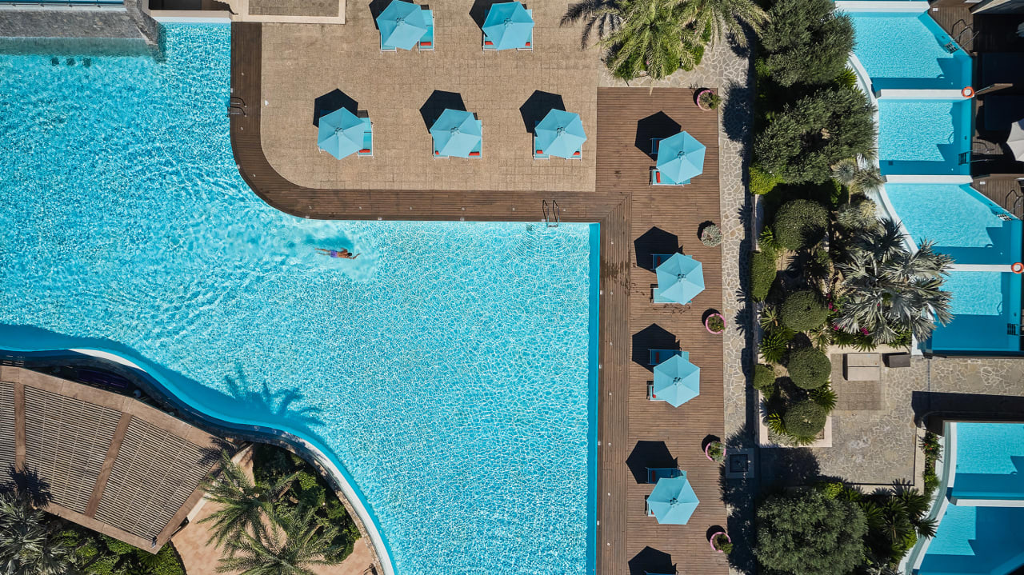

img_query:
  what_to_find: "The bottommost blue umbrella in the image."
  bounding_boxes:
[645,474,699,522]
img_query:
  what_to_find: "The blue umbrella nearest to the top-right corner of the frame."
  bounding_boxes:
[654,132,704,187]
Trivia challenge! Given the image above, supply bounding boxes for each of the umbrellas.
[533,110,586,162]
[645,474,699,522]
[482,2,536,53]
[377,0,429,53]
[652,251,703,305]
[654,132,704,187]
[650,353,698,407]
[429,109,484,159]
[317,106,366,160]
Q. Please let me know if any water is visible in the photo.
Yes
